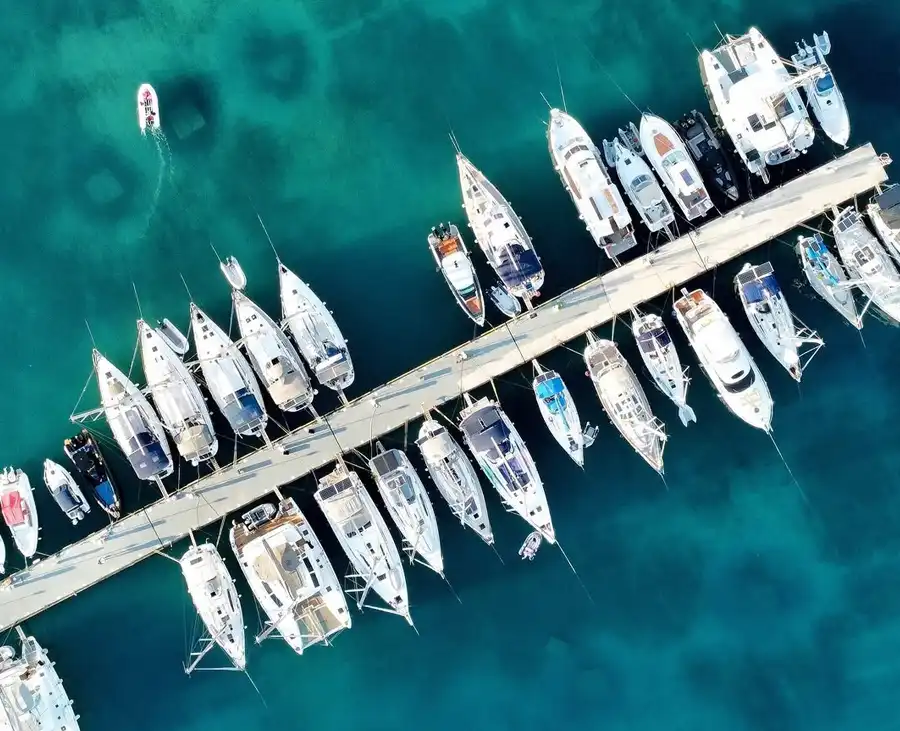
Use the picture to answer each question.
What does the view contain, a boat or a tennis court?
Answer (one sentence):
The one in the frame is a boat.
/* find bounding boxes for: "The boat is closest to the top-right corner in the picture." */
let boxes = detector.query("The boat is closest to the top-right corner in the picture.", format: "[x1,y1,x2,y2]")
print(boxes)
[811,28,832,55]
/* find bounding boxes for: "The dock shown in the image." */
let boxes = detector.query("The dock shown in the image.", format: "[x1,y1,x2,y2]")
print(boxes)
[0,141,889,633]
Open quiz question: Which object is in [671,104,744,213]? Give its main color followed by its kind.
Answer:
black boat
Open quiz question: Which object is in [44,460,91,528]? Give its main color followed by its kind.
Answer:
white boat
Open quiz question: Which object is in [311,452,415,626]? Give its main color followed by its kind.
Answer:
white boat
